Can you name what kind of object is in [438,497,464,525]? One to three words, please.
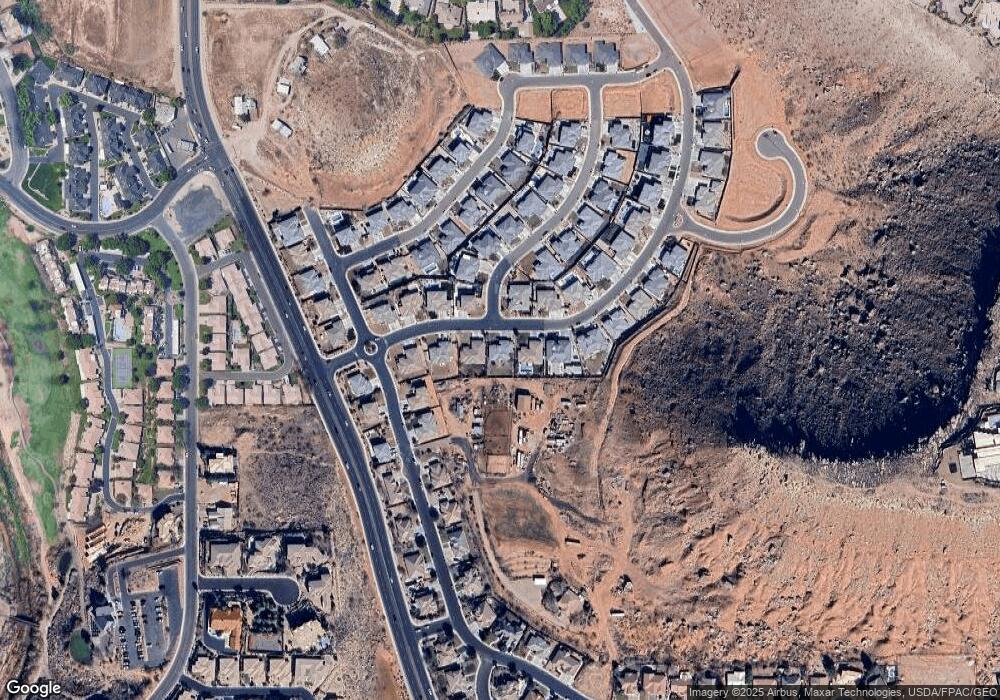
house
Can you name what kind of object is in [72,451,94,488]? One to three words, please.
building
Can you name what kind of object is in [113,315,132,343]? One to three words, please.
swimming pool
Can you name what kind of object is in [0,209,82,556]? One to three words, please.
golf course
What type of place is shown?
residential area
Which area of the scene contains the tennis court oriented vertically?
left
